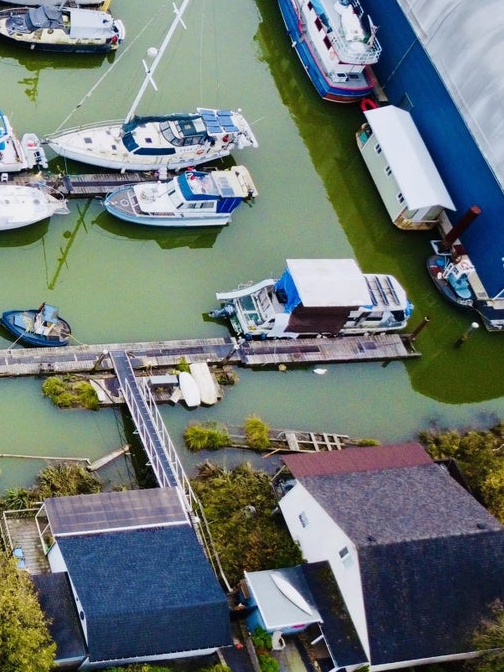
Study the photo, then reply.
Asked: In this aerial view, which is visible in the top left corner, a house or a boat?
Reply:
boat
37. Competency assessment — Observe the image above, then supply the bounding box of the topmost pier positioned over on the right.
[240,333,413,369]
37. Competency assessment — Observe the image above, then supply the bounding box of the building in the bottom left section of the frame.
[4,485,227,672]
